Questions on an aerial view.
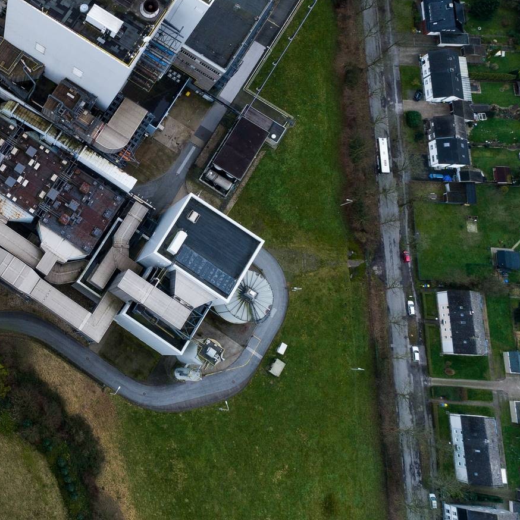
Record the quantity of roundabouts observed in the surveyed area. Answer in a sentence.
No roundabouts are visible.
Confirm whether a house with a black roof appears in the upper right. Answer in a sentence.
Yes, a house with a black roof shows up in the upper right.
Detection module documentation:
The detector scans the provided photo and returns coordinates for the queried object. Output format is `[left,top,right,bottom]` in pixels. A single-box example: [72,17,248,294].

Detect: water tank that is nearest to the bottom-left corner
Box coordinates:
[171,364,199,384]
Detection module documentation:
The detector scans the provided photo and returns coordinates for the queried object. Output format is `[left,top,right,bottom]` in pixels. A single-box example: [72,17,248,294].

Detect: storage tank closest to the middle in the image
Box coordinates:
[216,269,276,324]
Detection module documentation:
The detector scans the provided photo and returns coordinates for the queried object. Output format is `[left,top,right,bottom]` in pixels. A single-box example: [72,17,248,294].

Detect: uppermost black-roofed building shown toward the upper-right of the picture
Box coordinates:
[415,0,464,38]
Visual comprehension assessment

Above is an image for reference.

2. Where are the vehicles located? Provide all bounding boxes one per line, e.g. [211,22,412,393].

[430,493,440,510]
[403,250,412,263]
[414,88,423,102]
[412,346,422,363]
[407,300,416,316]
[377,135,394,173]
